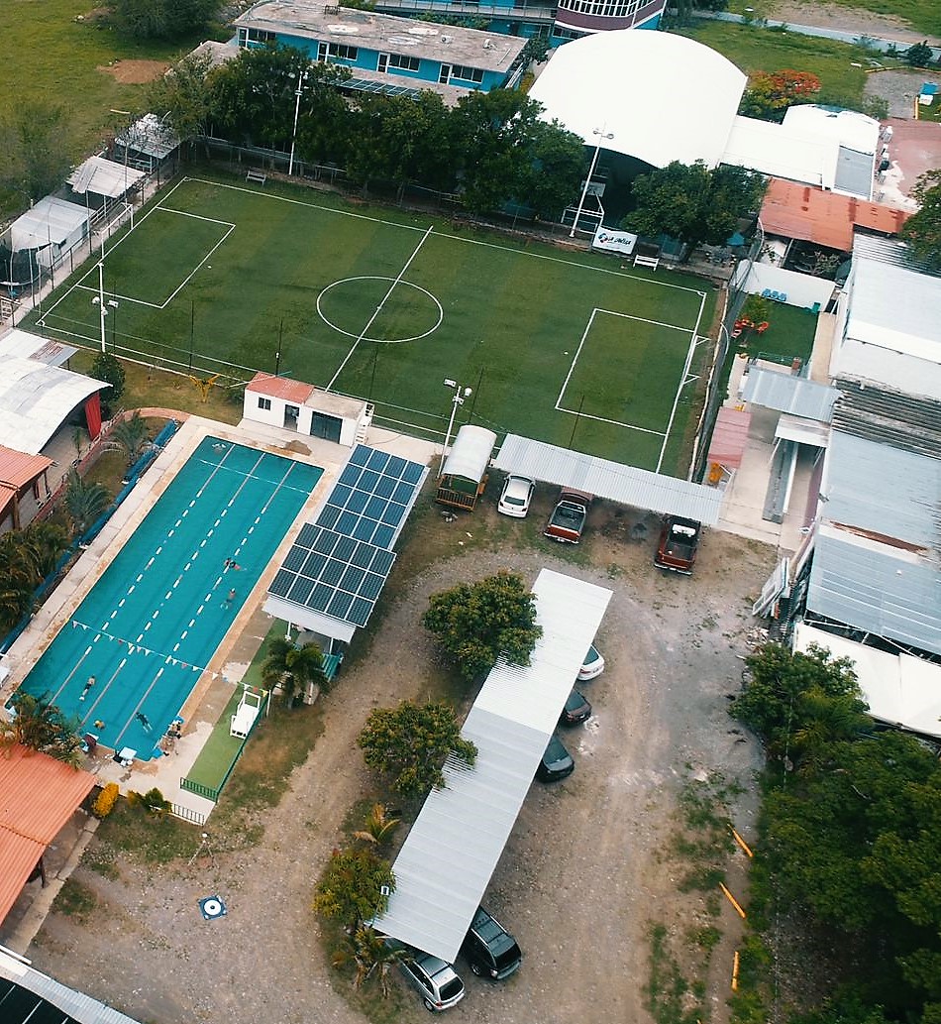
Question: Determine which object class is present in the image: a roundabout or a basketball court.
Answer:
basketball court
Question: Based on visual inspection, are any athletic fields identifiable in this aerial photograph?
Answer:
Yes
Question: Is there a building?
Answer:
Yes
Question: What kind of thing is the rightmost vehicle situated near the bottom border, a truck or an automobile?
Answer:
automobile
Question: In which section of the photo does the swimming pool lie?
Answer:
left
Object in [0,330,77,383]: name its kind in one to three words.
shed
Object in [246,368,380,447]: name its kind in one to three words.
building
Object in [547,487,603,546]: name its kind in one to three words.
truck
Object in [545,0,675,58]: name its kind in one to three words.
building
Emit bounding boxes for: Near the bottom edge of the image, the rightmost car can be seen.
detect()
[457,902,516,984]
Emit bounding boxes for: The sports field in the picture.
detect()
[15,162,724,475]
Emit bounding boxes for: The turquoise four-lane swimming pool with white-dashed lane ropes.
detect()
[0,425,338,777]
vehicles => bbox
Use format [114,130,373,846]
[655,515,709,577]
[547,487,603,546]
[532,734,575,785]
[457,902,516,984]
[498,471,540,516]
[575,639,613,683]
[555,680,597,730]
[381,933,469,1014]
